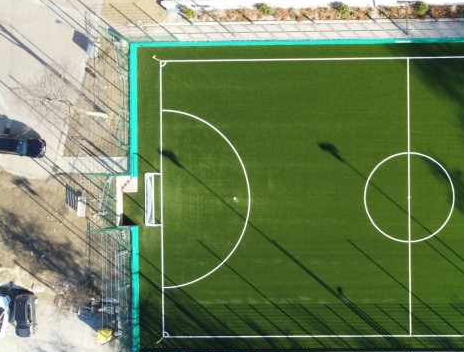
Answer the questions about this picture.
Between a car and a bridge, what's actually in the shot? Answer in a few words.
car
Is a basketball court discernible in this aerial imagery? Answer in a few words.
No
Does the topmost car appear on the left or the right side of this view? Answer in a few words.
left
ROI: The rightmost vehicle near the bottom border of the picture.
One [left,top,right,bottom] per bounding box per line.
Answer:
[10,292,37,337]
